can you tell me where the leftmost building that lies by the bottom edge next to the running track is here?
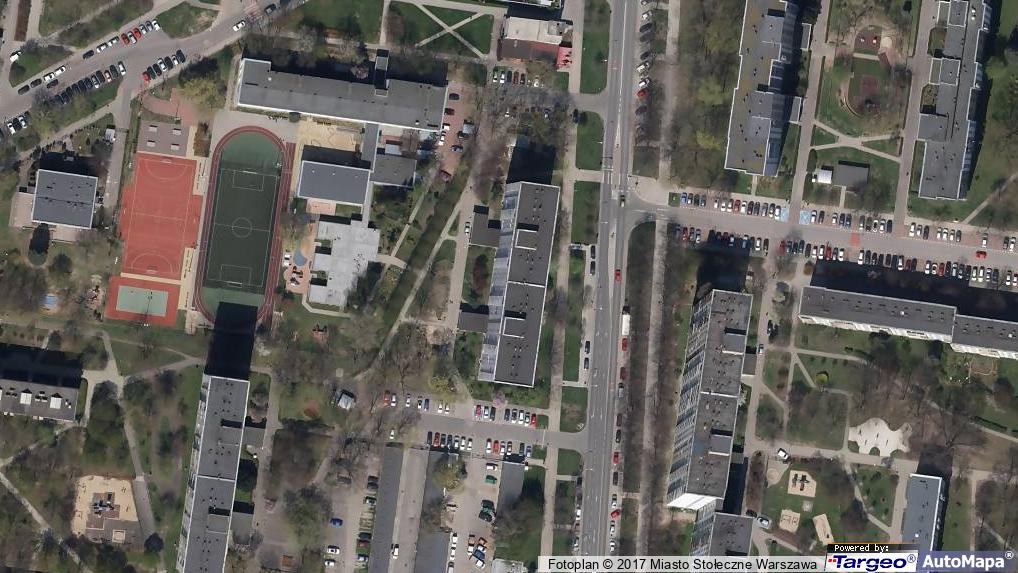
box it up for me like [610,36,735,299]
[175,376,250,573]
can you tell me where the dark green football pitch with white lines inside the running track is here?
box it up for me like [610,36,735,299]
[204,137,280,319]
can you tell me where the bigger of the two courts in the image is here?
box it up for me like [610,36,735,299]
[117,151,204,281]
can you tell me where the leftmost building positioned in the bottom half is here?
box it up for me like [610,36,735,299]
[0,378,79,422]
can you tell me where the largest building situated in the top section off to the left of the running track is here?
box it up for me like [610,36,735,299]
[32,169,97,231]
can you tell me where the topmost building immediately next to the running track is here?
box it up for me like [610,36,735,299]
[237,59,447,134]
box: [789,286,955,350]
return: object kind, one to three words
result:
building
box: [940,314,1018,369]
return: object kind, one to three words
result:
building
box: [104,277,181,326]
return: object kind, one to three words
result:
basketball court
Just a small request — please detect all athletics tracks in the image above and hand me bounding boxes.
[193,126,296,329]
